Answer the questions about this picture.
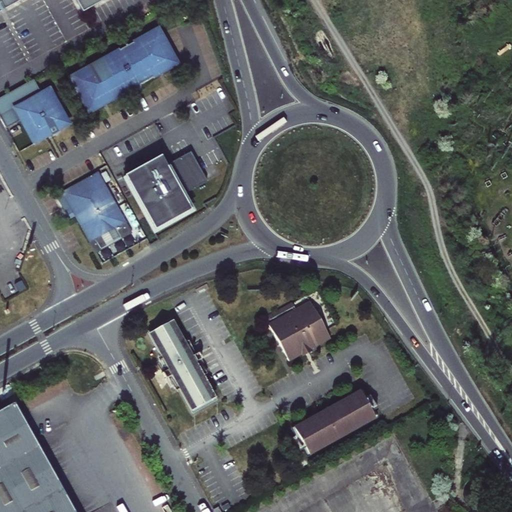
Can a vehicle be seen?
Yes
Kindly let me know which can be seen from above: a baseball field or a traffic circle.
traffic circle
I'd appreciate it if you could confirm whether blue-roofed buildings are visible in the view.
Yes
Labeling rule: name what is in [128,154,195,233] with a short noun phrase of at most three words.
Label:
building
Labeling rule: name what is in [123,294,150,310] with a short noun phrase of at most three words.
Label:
vehicle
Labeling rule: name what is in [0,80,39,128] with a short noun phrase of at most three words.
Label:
building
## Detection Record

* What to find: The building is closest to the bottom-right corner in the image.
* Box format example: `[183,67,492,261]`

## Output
[293,389,378,456]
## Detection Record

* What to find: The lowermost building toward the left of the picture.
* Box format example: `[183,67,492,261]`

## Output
[0,402,77,512]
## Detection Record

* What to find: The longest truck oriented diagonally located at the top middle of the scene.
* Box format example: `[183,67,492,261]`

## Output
[252,118,286,143]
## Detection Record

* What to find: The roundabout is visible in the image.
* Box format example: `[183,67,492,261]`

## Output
[232,102,398,267]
